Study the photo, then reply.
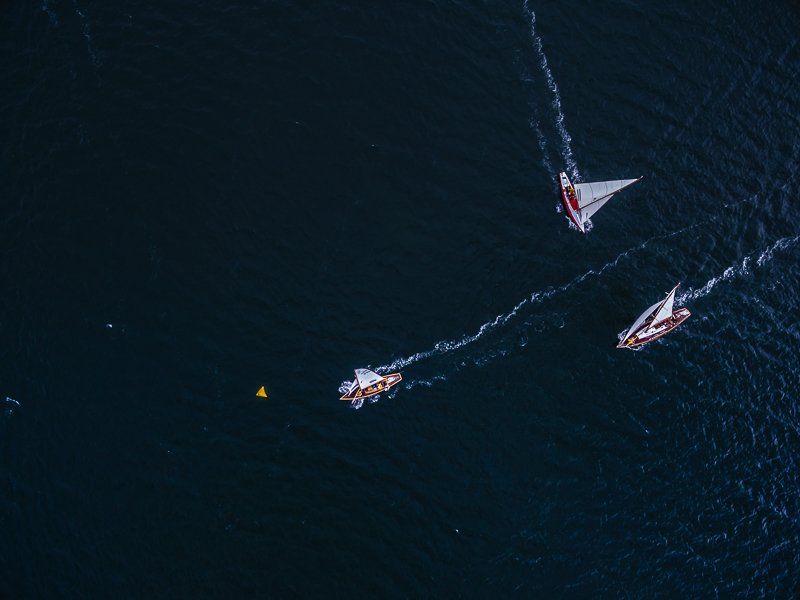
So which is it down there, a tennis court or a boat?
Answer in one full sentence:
Of the two, only a boat appears.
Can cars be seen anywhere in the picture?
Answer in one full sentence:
No, the frame has no car in it.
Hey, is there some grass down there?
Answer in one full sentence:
No, the picture contains no grass.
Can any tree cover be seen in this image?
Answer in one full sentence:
No, the scene doesn't show any tree cover.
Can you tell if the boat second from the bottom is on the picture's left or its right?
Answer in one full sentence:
It is on the right.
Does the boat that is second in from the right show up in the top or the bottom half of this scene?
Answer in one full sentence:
It is in the top half that the boat that is second in from the right appears.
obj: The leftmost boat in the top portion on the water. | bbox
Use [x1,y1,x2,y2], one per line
[559,172,643,233]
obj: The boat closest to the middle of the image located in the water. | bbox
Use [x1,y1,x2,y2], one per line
[340,369,403,404]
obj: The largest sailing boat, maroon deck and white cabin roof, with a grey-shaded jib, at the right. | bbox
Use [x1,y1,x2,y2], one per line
[616,282,691,348]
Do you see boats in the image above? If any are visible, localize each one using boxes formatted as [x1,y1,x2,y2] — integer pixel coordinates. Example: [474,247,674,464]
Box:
[559,172,643,233]
[616,282,691,348]
[340,369,403,404]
